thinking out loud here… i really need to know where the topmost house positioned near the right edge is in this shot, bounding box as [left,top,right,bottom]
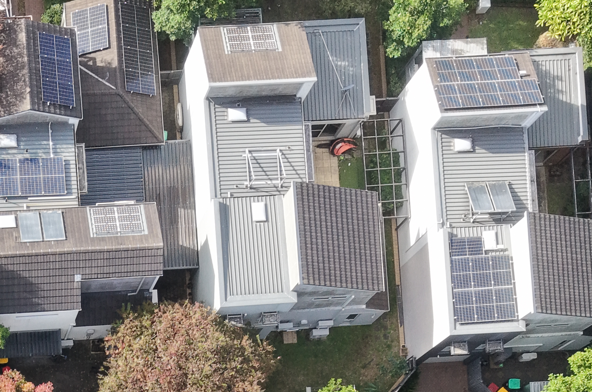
[385,38,592,362]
